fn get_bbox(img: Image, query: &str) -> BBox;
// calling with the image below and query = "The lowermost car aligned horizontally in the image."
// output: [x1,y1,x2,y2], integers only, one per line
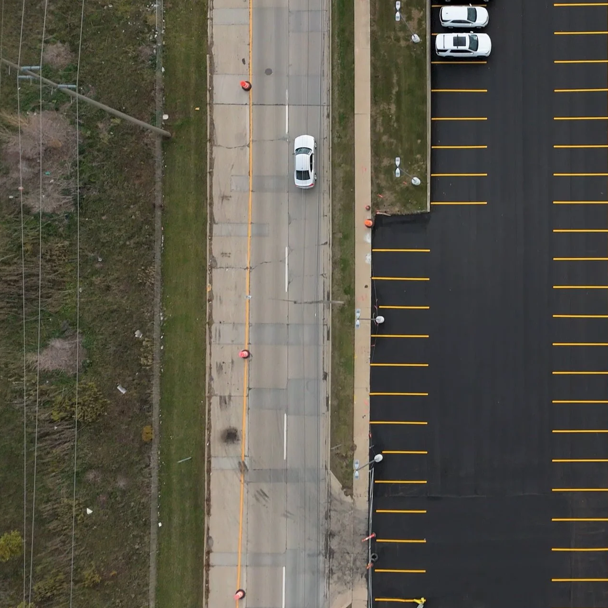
[436,30,492,57]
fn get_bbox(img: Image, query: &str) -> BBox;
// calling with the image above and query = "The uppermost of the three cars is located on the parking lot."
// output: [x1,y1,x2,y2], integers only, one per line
[439,2,489,29]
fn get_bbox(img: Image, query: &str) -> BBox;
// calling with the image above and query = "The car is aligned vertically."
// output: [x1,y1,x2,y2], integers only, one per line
[294,136,317,189]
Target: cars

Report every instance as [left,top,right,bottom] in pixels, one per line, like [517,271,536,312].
[294,136,317,189]
[436,30,492,57]
[439,2,489,29]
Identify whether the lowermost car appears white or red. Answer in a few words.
white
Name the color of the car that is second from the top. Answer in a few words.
white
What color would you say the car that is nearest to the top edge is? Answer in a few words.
white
